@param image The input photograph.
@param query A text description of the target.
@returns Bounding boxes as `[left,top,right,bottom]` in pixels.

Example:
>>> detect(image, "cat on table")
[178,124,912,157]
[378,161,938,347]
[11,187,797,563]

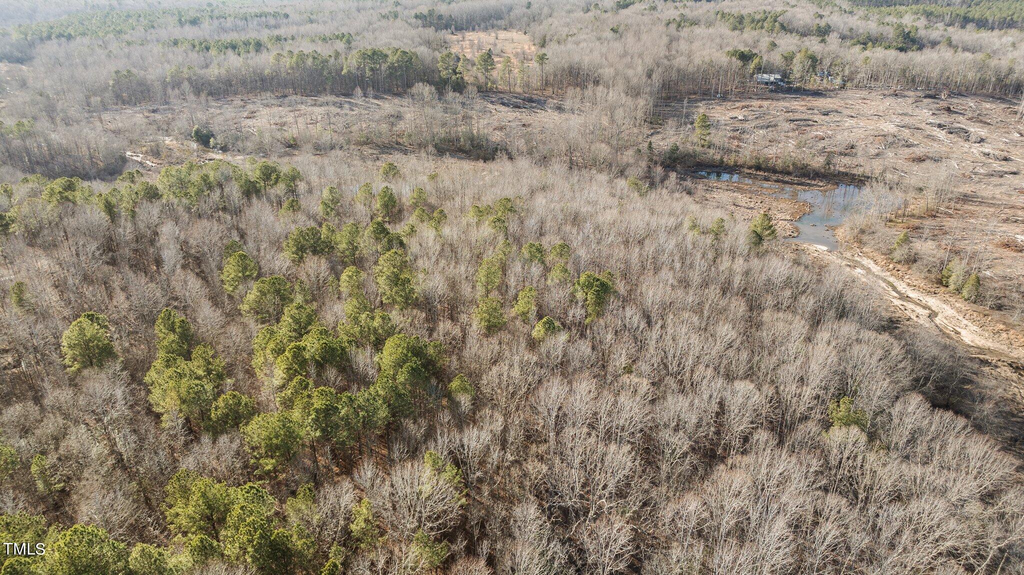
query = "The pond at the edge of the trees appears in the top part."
[692,171,892,254]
